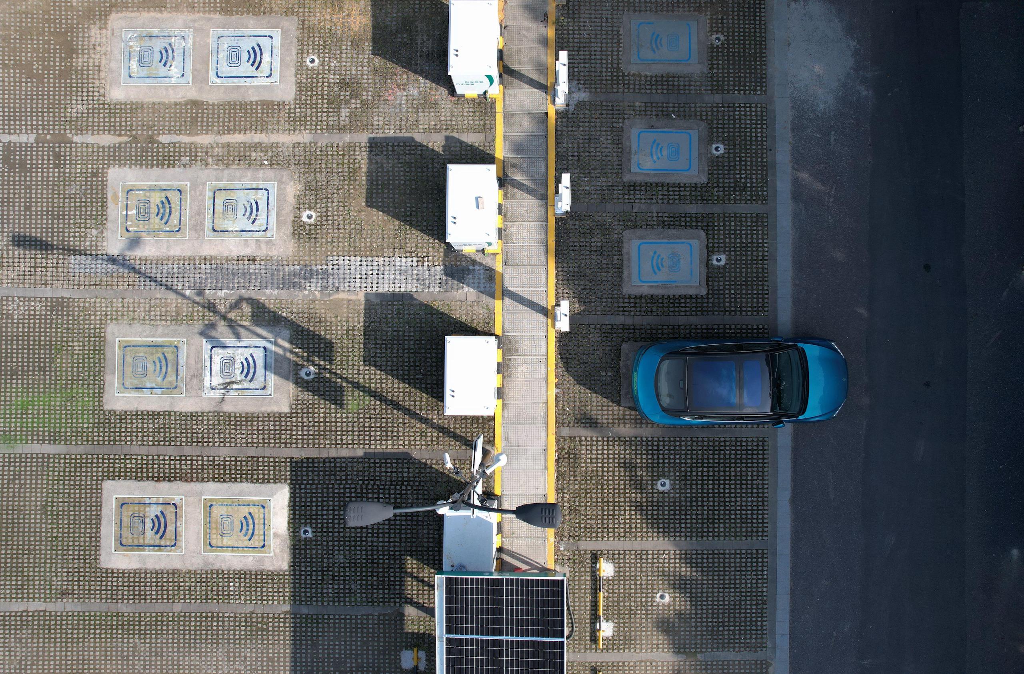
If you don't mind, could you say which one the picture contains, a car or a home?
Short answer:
car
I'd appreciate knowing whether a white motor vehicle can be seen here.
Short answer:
No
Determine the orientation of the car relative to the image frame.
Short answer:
horizontally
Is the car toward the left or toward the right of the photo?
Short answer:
right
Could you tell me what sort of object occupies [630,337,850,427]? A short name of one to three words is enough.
car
